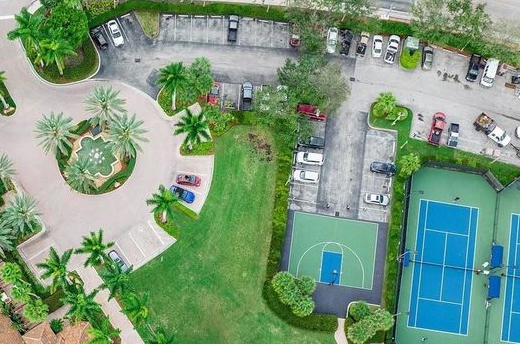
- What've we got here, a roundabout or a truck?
truck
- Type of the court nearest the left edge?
basketball court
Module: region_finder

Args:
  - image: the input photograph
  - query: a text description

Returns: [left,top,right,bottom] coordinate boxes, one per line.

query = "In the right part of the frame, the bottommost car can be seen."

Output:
[363,193,390,207]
